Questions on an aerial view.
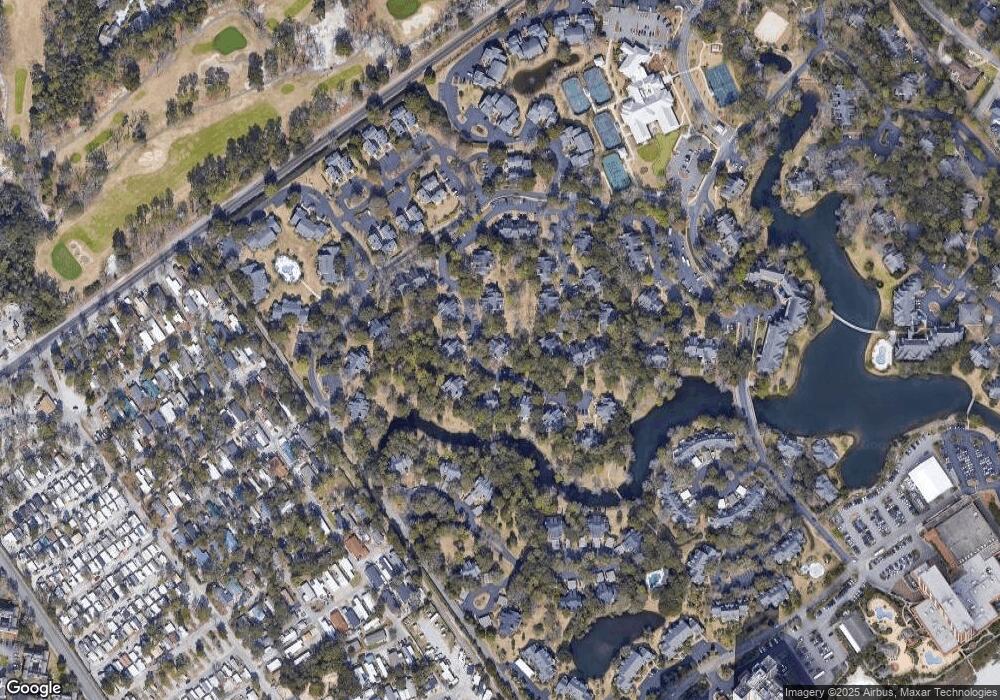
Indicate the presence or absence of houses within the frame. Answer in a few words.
Yes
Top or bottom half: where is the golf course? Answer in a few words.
top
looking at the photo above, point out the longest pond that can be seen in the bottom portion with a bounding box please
[572,612,663,679]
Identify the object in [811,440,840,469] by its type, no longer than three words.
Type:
house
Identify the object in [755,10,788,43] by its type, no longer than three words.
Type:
sports court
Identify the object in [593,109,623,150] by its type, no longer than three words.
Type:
tennis court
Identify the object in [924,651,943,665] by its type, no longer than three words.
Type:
swimming pool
